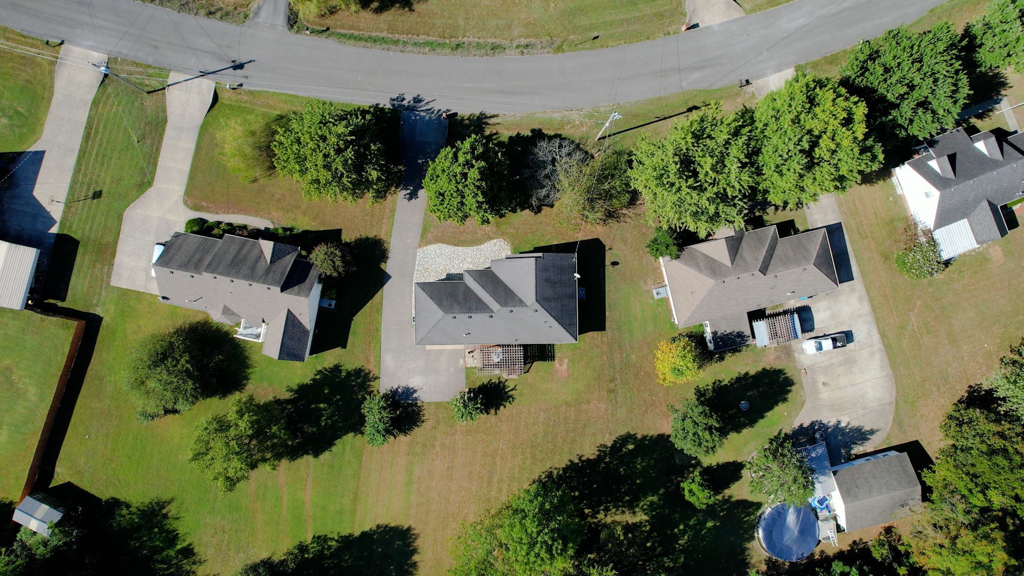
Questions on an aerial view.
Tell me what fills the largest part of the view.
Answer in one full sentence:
The bulk of the photo consists of grass.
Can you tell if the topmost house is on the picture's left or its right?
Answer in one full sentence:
You can find the topmost house on the right side of the picture.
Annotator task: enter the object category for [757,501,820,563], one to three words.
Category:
swimming pool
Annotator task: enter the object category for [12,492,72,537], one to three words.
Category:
shed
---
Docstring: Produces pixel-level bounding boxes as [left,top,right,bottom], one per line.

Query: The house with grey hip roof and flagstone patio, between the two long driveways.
[414,253,580,345]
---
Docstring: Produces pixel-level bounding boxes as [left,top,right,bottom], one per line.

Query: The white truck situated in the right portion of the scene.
[801,332,848,354]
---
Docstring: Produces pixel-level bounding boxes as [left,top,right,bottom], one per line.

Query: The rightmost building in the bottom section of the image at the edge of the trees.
[830,449,922,533]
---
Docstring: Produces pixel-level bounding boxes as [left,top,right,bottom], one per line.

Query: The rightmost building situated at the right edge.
[891,104,1024,260]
